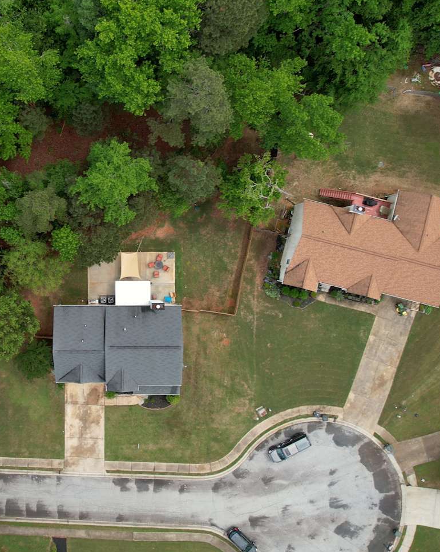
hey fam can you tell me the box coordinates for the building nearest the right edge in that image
[280,190,440,310]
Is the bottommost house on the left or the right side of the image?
left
